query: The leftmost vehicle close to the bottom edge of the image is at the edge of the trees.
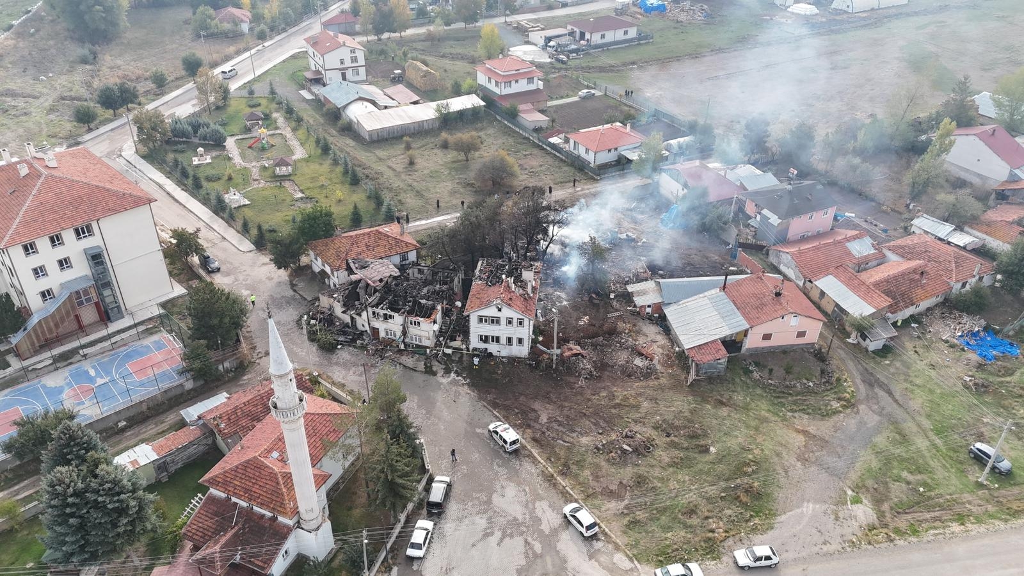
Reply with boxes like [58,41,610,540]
[404,516,434,561]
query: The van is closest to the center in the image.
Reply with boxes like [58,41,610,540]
[484,417,525,452]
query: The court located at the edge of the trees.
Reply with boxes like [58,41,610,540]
[0,329,198,447]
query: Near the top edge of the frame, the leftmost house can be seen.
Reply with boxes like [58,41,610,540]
[216,8,260,32]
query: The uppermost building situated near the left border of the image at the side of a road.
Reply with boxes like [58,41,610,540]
[0,139,174,359]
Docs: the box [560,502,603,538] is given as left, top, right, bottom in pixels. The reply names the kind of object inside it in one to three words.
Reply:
car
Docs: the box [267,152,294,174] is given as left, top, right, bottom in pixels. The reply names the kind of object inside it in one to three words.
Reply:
gazebo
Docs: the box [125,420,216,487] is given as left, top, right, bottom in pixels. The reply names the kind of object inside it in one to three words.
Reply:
shed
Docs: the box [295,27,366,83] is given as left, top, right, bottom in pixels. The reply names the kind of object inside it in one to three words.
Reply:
house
